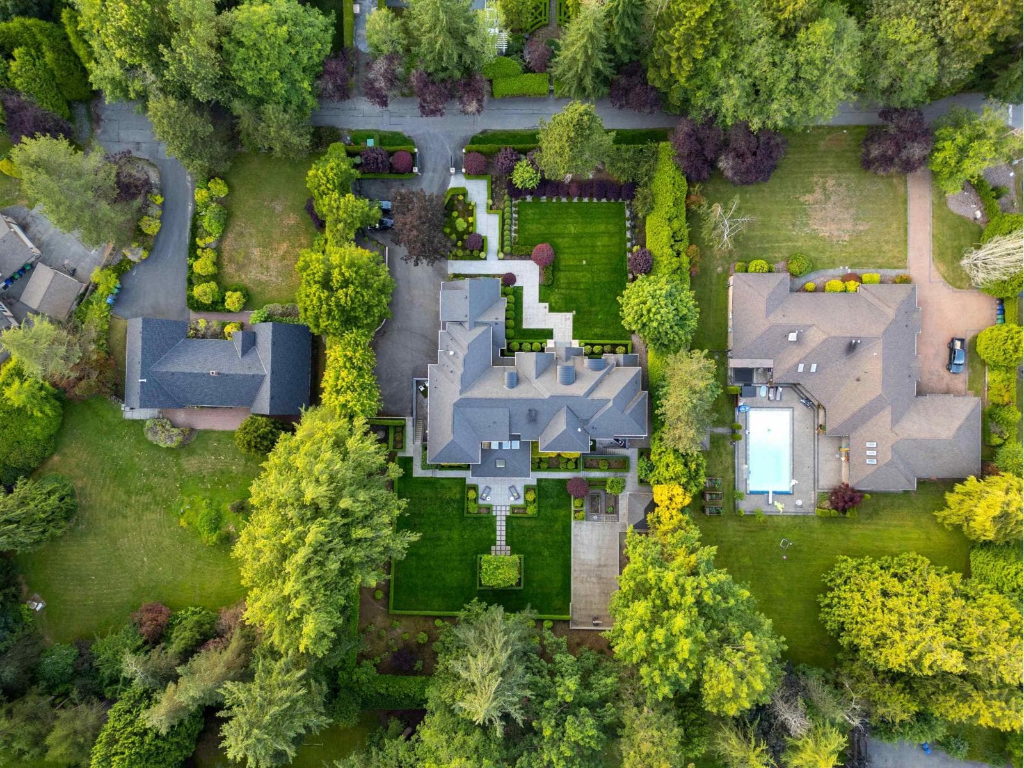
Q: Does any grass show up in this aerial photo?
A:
Yes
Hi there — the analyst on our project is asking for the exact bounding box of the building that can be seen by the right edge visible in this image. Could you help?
[730,272,981,491]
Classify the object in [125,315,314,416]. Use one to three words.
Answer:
house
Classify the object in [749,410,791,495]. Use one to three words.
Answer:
swimming pool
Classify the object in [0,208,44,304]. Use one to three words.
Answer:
house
